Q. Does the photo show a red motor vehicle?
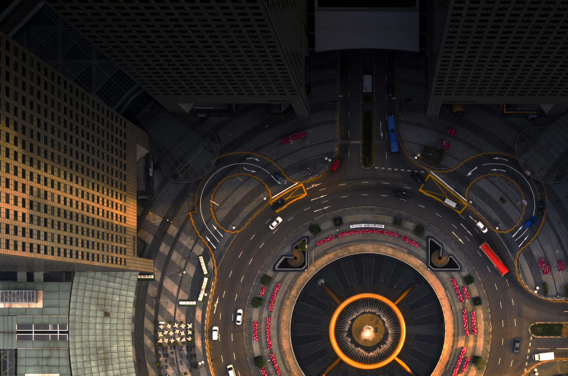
Yes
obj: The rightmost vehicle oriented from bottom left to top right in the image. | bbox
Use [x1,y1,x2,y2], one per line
[522,216,537,230]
